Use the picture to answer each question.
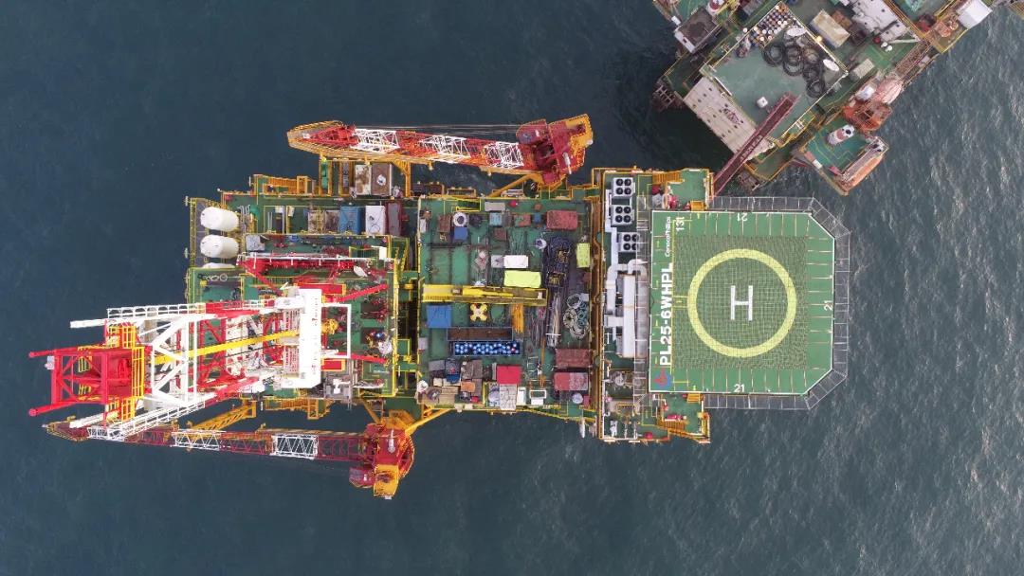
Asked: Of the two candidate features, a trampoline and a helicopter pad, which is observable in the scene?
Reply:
helicopter pad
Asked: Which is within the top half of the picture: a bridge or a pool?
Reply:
bridge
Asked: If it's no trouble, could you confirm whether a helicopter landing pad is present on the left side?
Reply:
No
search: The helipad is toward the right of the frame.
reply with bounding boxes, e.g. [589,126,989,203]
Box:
[634,195,850,410]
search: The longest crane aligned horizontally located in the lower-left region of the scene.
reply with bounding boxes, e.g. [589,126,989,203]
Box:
[35,398,450,501]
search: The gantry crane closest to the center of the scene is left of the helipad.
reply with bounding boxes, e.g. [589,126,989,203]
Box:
[422,287,548,304]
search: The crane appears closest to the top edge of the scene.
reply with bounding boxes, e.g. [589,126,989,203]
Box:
[283,111,594,199]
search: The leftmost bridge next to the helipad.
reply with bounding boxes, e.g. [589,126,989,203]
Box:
[702,87,806,200]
